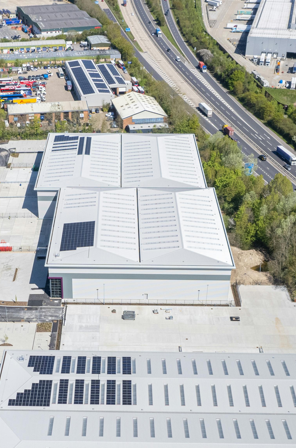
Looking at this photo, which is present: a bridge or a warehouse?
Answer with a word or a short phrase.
warehouse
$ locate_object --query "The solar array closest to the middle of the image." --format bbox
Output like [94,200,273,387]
[60,220,95,252]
